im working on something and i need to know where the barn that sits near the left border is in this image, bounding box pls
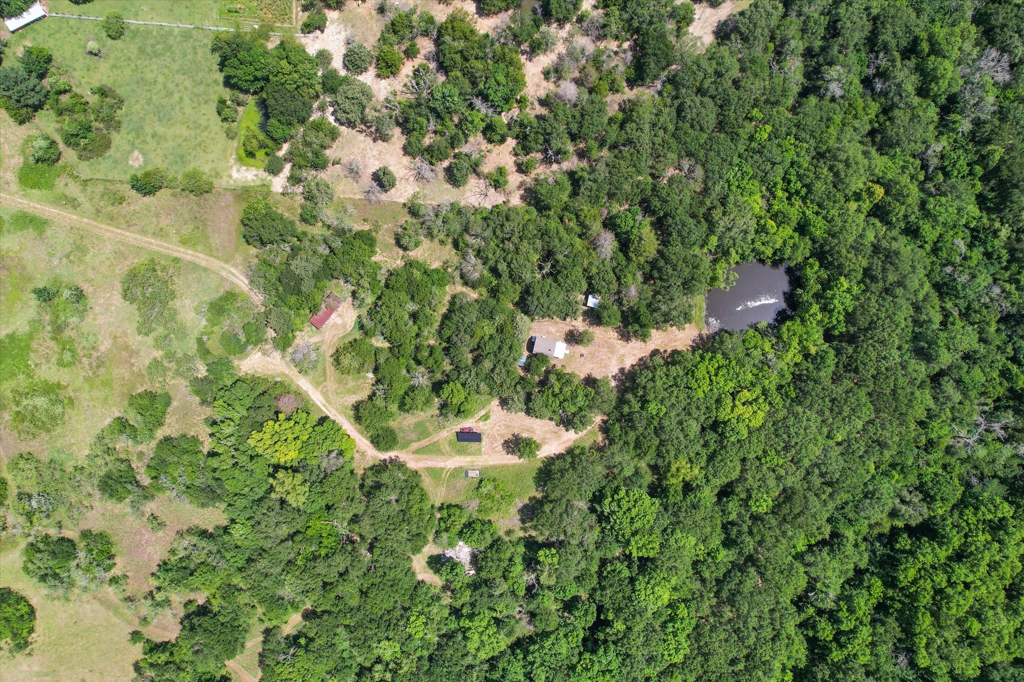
[4,1,49,35]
